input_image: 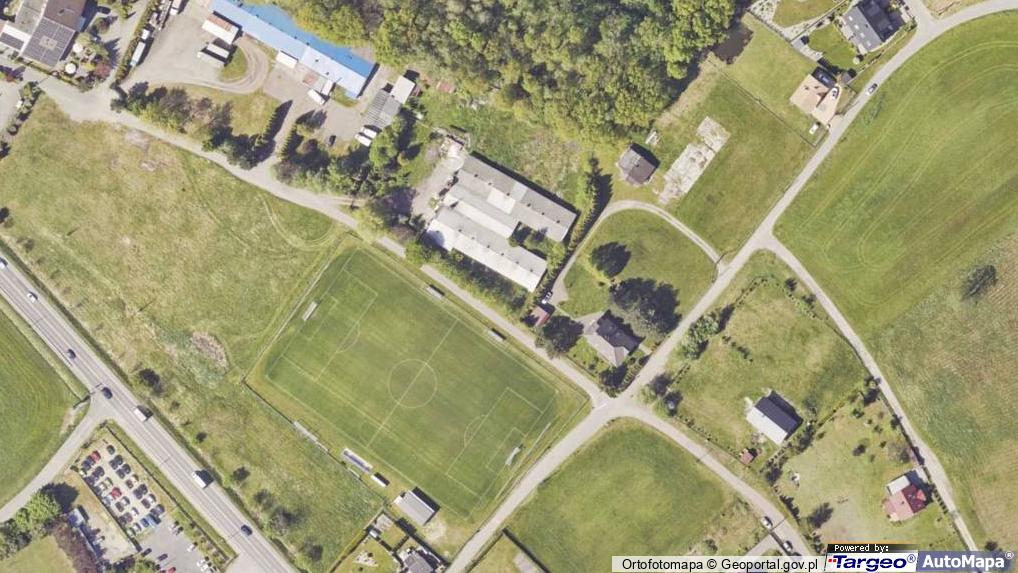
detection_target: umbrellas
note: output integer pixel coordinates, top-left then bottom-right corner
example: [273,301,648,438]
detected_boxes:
[66,63,77,74]
[73,43,83,53]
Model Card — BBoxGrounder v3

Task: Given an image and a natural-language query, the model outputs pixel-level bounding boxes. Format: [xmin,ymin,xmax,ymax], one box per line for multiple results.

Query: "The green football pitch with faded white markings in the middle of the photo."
[264,246,561,521]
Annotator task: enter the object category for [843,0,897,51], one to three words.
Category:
house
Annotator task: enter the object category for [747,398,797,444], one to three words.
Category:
house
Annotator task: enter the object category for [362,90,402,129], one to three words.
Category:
shed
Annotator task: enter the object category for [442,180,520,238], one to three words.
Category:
building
